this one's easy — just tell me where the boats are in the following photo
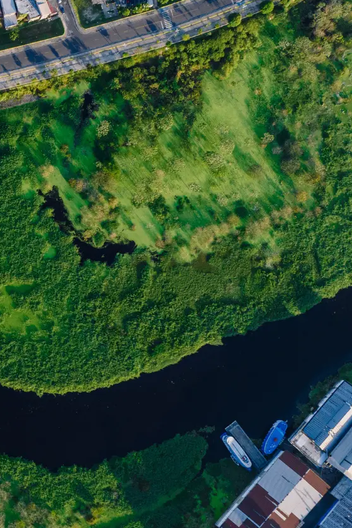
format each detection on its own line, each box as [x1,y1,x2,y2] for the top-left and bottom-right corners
[221,432,252,474]
[263,419,286,454]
